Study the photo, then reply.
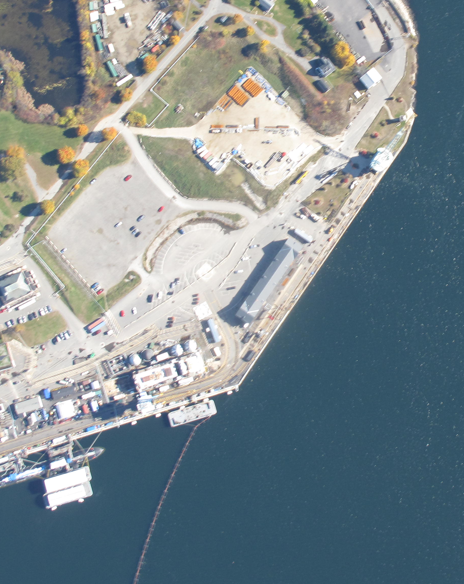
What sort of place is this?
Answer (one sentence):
What you see here is a port.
